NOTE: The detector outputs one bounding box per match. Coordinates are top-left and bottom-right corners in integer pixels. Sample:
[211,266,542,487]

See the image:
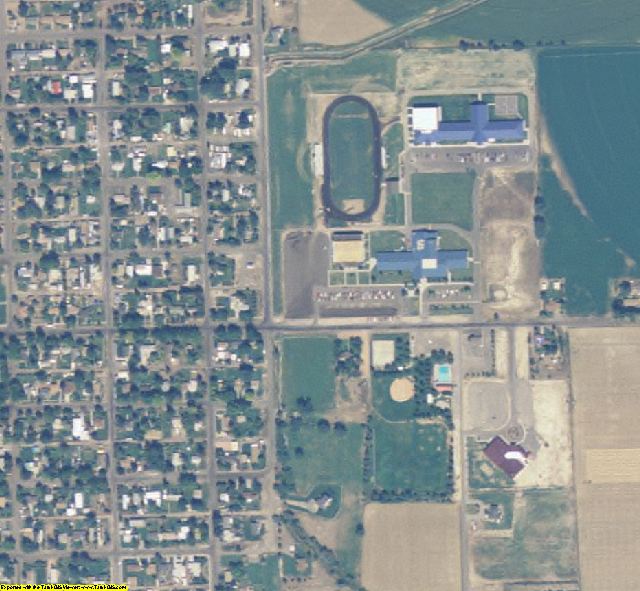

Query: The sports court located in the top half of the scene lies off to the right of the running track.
[495,95,519,116]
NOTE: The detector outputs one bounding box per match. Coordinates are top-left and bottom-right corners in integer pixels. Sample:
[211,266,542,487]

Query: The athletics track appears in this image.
[322,96,381,222]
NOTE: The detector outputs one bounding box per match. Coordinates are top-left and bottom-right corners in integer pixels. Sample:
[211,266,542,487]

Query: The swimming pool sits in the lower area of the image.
[434,365,451,384]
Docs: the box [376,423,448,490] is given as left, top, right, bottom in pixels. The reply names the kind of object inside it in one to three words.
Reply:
soccer field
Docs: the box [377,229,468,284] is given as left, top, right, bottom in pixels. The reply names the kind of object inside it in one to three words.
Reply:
building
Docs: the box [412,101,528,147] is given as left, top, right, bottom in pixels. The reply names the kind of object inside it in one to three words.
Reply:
building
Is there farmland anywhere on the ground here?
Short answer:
Yes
